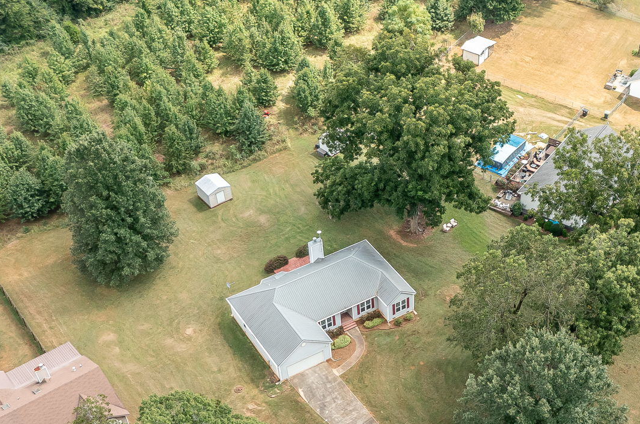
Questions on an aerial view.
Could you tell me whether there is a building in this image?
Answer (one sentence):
Yes, a building can be made out from above.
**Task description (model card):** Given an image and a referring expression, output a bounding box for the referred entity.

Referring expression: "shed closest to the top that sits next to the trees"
[467,36,498,64]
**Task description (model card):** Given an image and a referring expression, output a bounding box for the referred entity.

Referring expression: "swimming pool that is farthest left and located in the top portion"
[484,133,530,170]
